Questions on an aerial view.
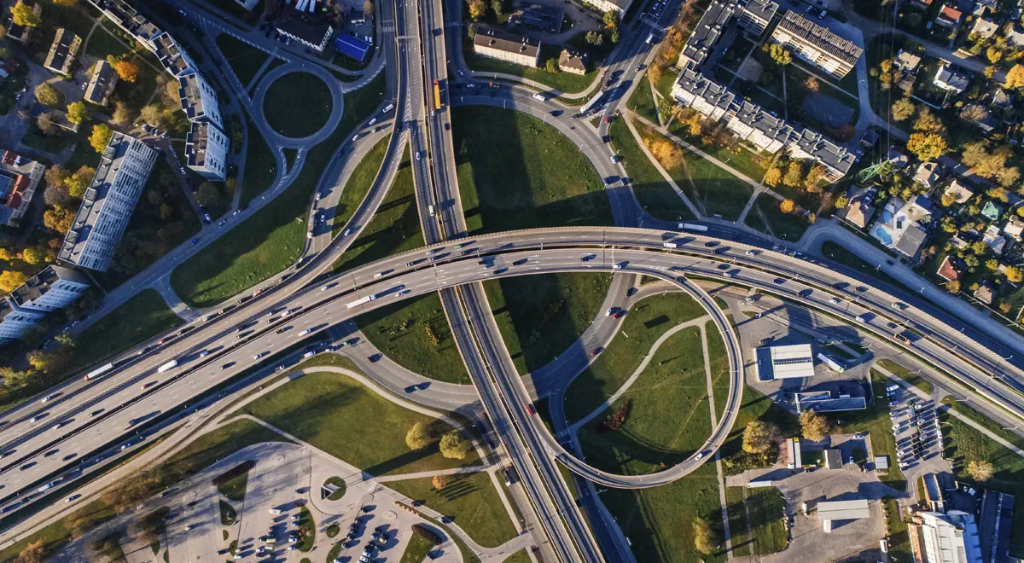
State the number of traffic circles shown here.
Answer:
1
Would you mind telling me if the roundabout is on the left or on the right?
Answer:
left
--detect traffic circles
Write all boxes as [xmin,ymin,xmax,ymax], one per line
[251,58,345,152]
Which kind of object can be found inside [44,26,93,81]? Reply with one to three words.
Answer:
house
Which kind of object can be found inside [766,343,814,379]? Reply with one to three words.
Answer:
building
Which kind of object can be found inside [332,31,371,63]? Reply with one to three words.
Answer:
shed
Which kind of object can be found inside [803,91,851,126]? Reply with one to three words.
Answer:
sports court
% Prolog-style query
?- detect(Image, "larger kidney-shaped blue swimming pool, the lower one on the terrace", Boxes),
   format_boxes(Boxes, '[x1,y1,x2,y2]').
[875,226,894,246]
